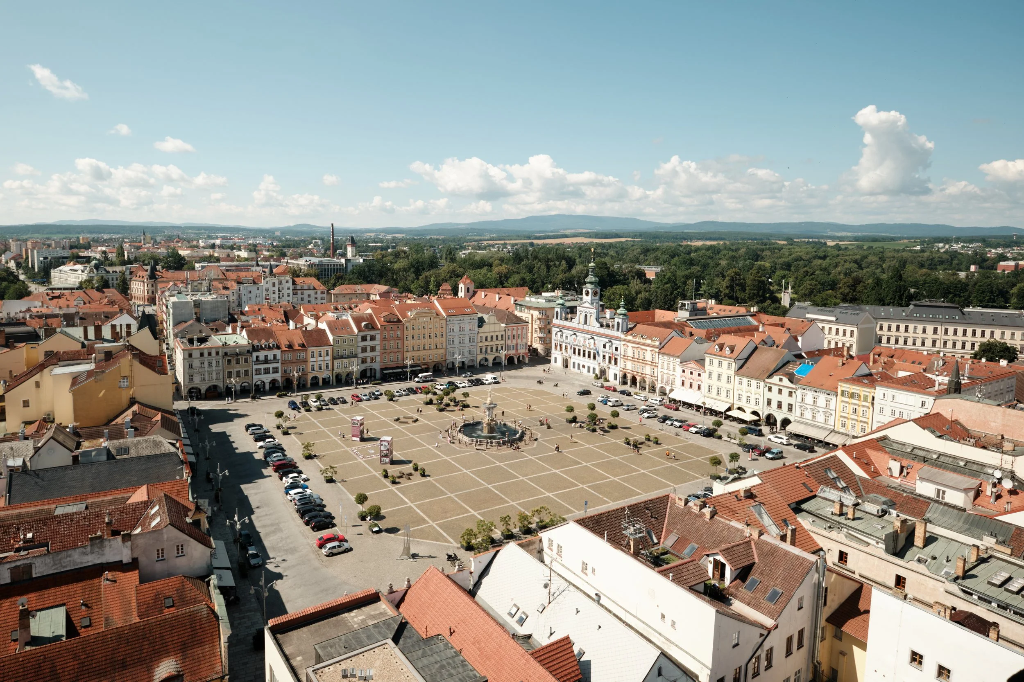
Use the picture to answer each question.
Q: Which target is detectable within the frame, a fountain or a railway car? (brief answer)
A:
fountain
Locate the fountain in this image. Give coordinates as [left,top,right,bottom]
[455,387,523,442]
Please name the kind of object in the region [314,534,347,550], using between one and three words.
car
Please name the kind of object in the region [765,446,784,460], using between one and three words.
vehicle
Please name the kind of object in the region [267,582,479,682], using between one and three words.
house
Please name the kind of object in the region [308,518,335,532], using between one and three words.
car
